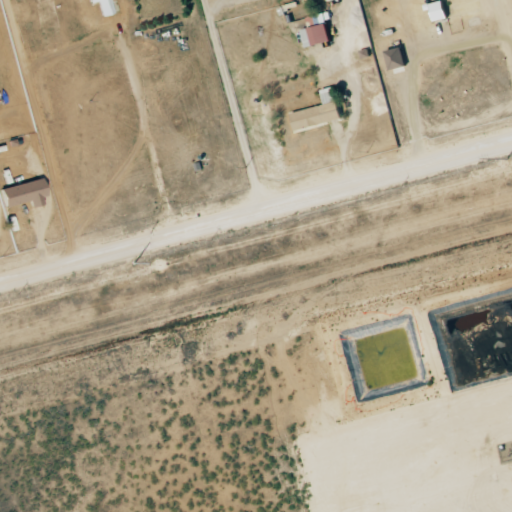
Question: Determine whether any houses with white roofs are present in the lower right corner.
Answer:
No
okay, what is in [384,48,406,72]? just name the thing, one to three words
house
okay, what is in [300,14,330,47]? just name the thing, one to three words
house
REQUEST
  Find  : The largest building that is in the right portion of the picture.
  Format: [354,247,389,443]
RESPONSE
[289,102,339,135]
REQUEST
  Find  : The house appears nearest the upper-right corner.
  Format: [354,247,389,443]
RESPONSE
[422,0,446,22]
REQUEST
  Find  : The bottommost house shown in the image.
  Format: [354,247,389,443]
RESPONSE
[1,178,49,208]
